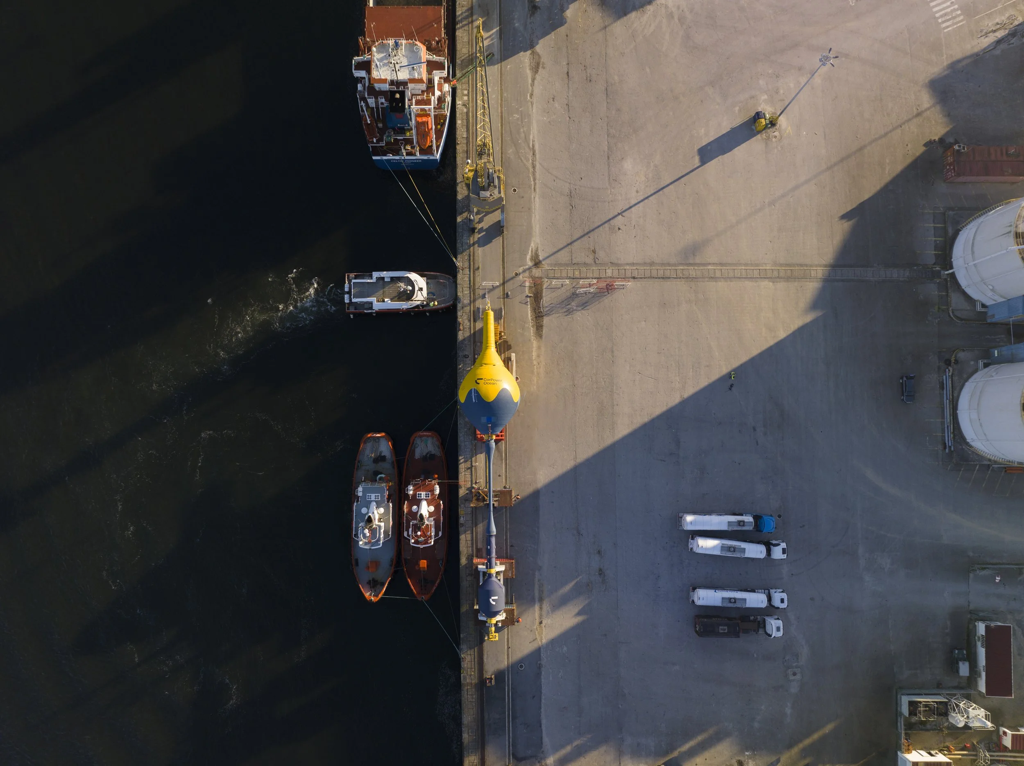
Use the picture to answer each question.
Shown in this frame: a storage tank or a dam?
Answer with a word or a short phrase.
storage tank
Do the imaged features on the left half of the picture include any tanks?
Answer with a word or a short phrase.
No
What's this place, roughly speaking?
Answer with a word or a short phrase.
port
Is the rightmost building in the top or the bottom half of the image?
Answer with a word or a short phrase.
bottom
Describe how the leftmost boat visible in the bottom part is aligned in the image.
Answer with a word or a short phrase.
up and down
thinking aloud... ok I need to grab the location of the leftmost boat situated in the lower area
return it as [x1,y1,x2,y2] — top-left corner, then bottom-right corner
[352,432,400,603]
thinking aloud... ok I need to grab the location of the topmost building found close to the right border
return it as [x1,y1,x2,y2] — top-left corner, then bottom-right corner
[976,622,1015,698]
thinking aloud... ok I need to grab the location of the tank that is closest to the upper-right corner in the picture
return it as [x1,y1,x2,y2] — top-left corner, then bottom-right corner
[945,189,1024,304]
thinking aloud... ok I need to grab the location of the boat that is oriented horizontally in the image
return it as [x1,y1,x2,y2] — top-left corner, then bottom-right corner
[345,271,455,316]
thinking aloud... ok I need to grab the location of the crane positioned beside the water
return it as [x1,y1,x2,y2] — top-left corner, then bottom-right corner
[464,12,507,235]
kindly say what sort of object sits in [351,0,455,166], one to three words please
ship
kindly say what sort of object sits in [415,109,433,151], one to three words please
boat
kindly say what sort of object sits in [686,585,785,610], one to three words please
truck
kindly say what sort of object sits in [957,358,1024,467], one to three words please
storage tank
